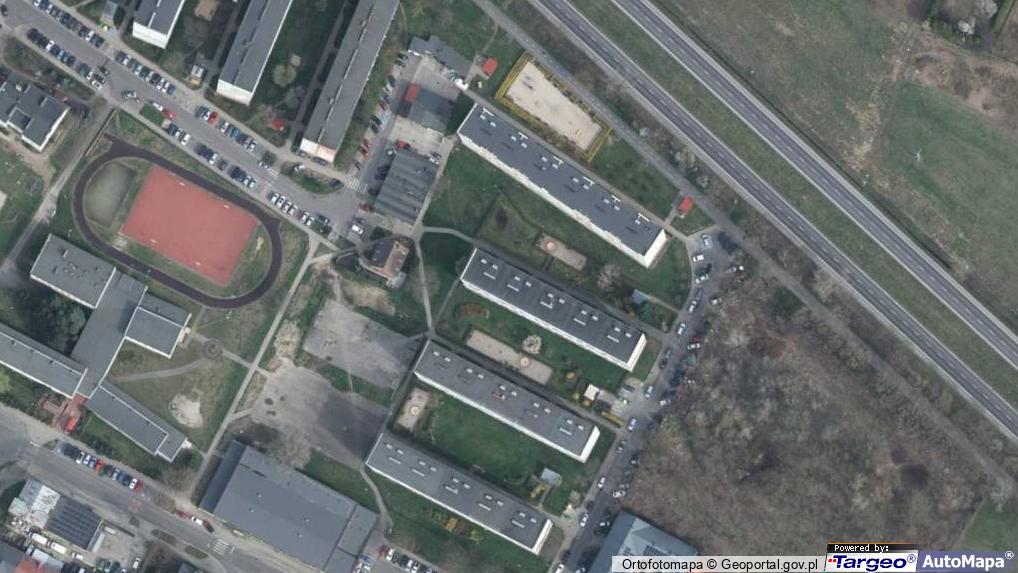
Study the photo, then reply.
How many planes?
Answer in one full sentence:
There are no planes in the image.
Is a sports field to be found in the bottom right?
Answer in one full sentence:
No, there is no sports field in the bottom right.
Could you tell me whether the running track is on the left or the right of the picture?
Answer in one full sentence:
The running track is on the left side of the image.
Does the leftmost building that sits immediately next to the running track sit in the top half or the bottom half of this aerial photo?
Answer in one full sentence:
Seen from above, the leftmost building that sits immediately next to the running track lies in the top half of the view.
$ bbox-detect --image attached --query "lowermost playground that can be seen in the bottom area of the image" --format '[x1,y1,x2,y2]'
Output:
[397,387,428,431]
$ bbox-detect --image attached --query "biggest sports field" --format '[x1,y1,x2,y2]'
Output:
[118,163,261,287]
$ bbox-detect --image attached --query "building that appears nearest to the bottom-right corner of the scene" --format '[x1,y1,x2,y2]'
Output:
[588,512,698,573]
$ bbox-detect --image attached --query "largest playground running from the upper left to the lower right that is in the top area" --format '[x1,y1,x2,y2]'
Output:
[508,62,600,150]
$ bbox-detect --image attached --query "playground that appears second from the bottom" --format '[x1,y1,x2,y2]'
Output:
[468,330,553,385]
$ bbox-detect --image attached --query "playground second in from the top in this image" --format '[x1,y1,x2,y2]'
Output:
[539,233,587,271]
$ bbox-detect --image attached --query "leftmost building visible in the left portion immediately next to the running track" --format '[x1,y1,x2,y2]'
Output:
[0,67,72,154]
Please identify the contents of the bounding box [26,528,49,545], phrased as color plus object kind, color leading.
white vehicle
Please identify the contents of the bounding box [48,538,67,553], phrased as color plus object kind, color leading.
white vehicle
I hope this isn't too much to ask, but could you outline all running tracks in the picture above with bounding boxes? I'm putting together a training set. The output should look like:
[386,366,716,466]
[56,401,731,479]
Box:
[74,133,283,309]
